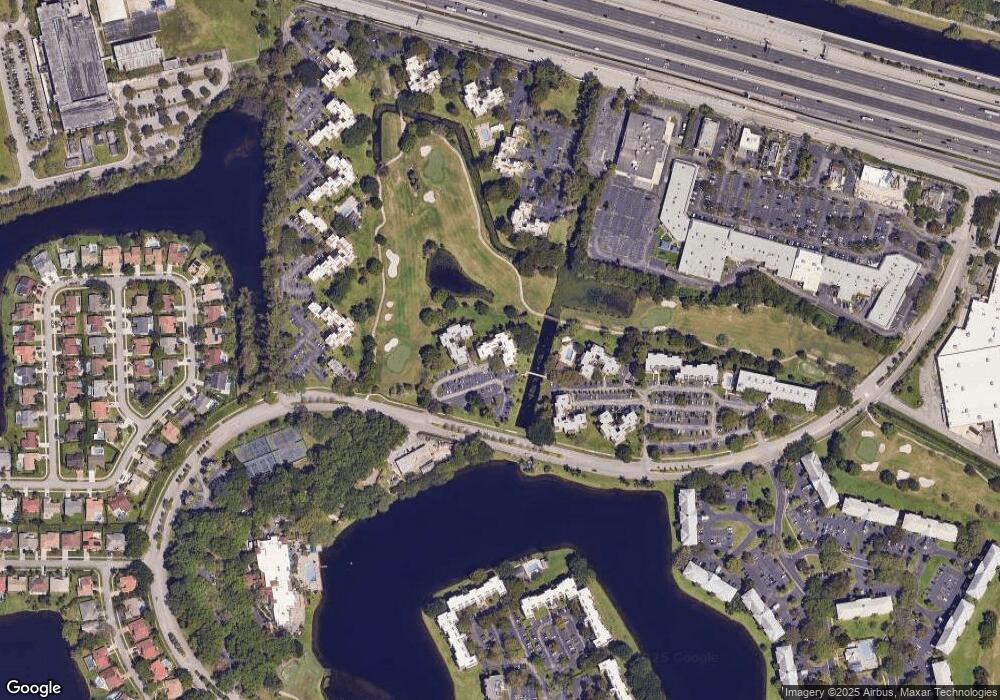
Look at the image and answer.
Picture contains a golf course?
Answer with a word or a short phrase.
Yes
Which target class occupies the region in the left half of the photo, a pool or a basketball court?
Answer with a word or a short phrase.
pool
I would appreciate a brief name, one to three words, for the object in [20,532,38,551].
house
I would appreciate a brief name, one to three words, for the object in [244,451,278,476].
tennis court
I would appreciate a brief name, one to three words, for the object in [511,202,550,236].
building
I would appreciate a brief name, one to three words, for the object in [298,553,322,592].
swimming pool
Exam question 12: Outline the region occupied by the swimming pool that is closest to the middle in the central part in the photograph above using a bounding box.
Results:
[560,346,576,365]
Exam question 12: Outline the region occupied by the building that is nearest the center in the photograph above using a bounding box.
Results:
[477,331,519,367]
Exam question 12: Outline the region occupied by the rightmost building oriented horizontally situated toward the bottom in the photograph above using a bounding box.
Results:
[901,514,961,542]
